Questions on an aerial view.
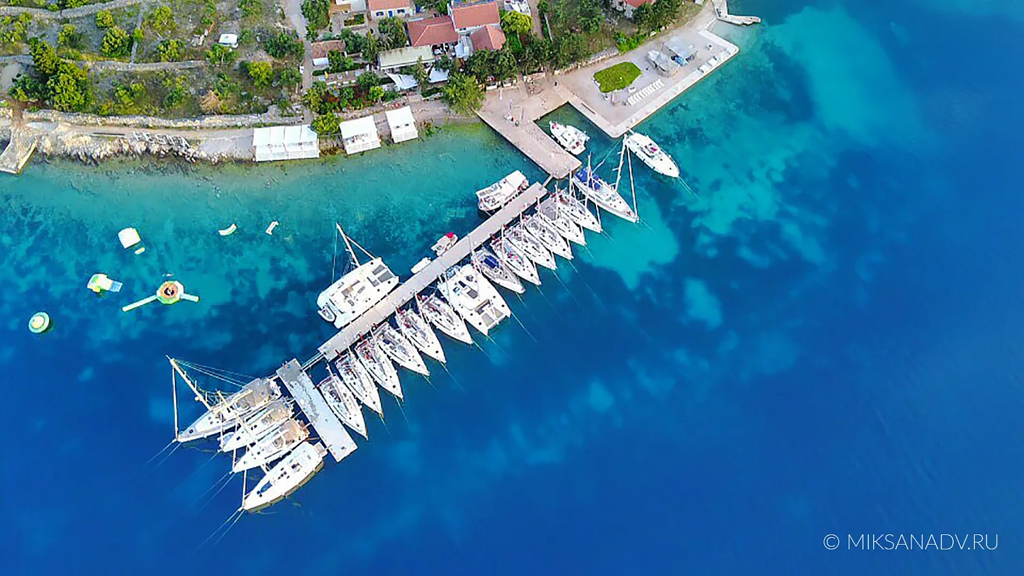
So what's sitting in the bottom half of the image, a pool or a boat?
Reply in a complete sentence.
The one visible in the bottom half of the image is a boat.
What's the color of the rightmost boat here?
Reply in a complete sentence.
The color of the rightmost boat is white.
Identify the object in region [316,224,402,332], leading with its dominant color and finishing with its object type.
white boat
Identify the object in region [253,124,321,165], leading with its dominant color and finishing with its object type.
white gazebo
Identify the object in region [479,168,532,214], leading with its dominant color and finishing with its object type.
white boat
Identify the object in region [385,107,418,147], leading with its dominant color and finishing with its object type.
white gazebo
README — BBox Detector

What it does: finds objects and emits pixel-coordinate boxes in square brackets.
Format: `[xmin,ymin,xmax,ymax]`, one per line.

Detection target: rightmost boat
[618,126,702,204]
